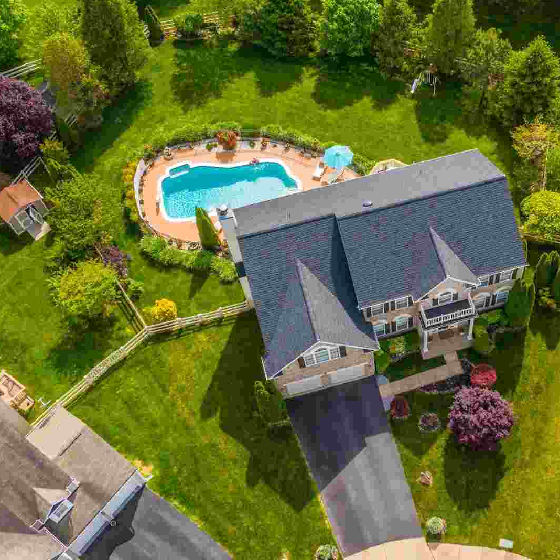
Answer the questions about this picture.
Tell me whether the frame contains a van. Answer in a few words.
No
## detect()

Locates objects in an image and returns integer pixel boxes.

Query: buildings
[0,180,45,238]
[218,146,532,397]
[0,395,145,560]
